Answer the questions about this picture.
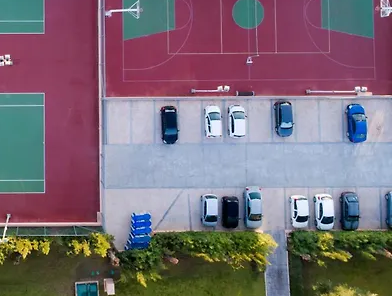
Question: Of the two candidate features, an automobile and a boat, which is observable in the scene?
automobile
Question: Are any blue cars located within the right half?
Yes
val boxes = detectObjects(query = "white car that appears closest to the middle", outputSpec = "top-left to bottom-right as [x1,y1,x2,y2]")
[202,105,222,138]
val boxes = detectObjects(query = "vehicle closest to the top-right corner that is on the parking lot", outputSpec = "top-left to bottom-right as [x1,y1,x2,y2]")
[343,104,367,144]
